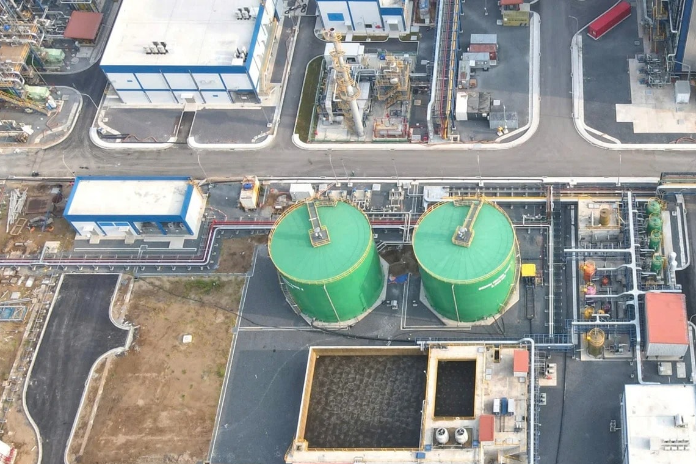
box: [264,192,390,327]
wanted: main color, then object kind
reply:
green storage tank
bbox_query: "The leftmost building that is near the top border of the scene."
[101,0,284,107]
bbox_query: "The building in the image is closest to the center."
[293,184,321,205]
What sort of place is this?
industrial area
